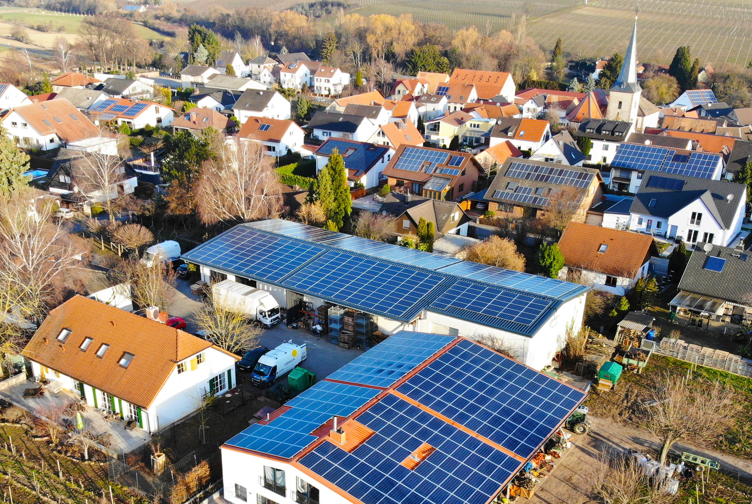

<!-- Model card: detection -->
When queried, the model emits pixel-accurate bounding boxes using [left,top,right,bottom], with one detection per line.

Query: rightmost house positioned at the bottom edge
[221,326,590,504]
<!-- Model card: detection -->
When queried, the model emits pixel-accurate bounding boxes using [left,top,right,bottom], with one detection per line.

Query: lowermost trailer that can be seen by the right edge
[669,443,749,482]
